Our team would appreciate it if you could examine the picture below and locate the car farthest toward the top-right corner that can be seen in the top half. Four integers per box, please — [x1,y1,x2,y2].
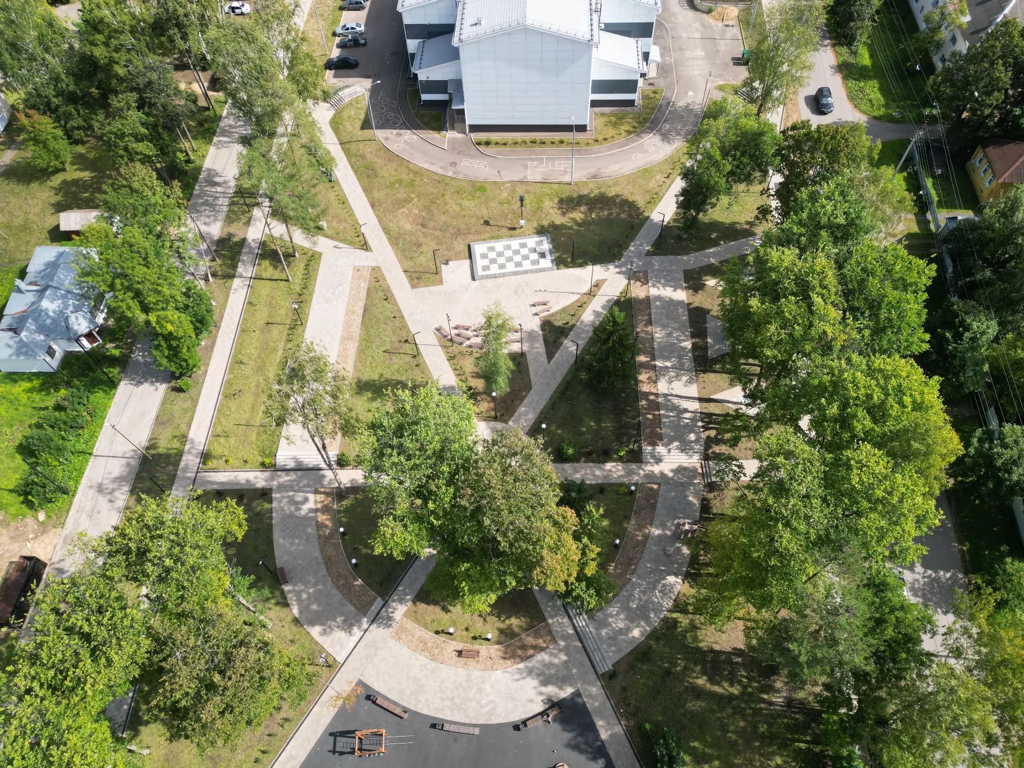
[814,85,836,114]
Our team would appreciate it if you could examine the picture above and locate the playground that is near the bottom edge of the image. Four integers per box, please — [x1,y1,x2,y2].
[299,678,617,768]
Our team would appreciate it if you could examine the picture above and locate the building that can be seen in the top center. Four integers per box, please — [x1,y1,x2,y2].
[395,0,663,133]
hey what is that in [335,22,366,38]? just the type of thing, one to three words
car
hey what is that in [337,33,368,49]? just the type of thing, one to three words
car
